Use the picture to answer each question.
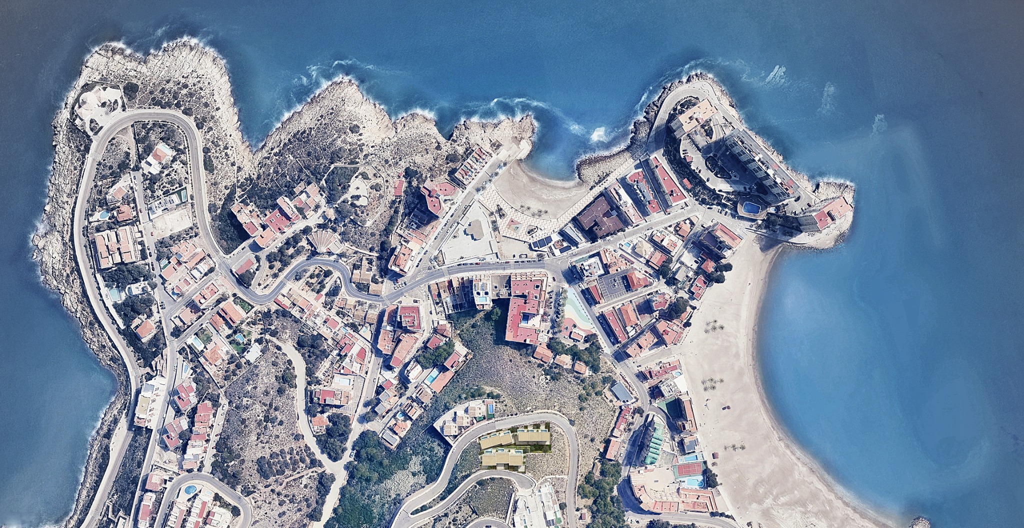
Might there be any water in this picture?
Yes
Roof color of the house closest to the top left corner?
white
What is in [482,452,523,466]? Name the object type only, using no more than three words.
house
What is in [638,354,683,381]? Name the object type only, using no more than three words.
building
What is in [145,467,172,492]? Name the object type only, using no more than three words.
house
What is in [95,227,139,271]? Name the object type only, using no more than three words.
building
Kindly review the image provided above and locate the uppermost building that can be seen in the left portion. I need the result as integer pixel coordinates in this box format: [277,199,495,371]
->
[76,86,110,120]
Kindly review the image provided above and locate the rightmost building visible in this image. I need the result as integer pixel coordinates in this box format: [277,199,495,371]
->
[800,197,853,232]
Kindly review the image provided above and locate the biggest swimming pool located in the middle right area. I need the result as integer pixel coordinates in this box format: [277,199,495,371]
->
[742,201,761,215]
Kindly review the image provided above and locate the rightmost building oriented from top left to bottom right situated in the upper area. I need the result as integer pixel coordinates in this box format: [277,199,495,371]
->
[730,129,801,200]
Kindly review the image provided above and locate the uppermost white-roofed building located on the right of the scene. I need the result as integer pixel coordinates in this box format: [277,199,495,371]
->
[670,98,718,138]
